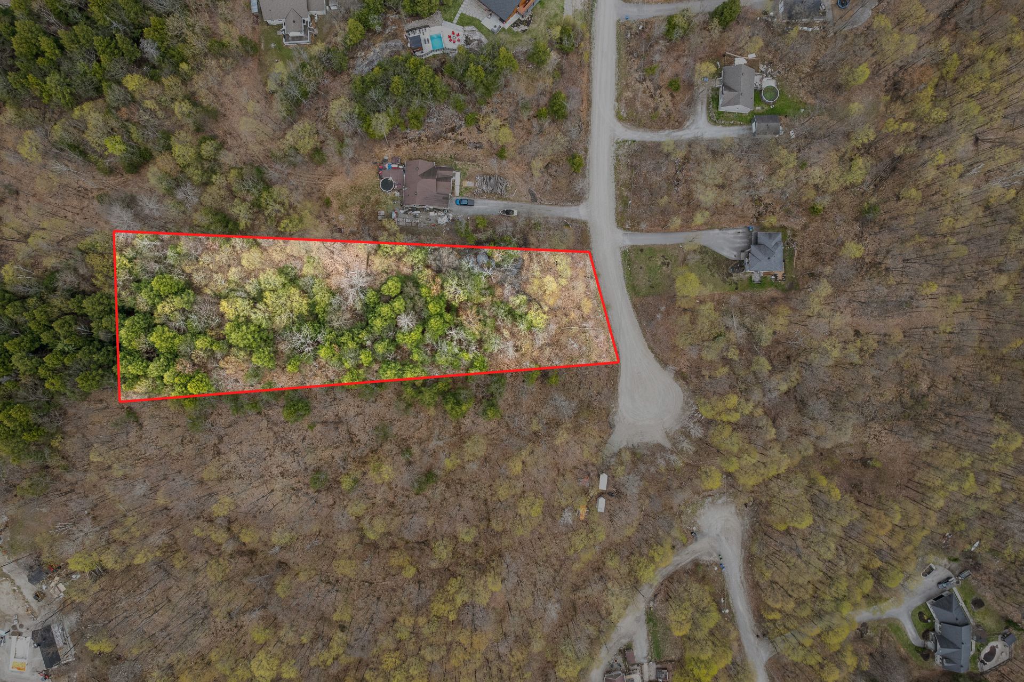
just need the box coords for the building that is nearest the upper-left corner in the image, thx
[262,0,328,44]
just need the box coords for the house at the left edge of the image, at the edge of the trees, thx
[32,615,75,668]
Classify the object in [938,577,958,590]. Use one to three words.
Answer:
vehicle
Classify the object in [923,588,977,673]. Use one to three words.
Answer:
house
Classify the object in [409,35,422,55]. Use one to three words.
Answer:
gazebo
